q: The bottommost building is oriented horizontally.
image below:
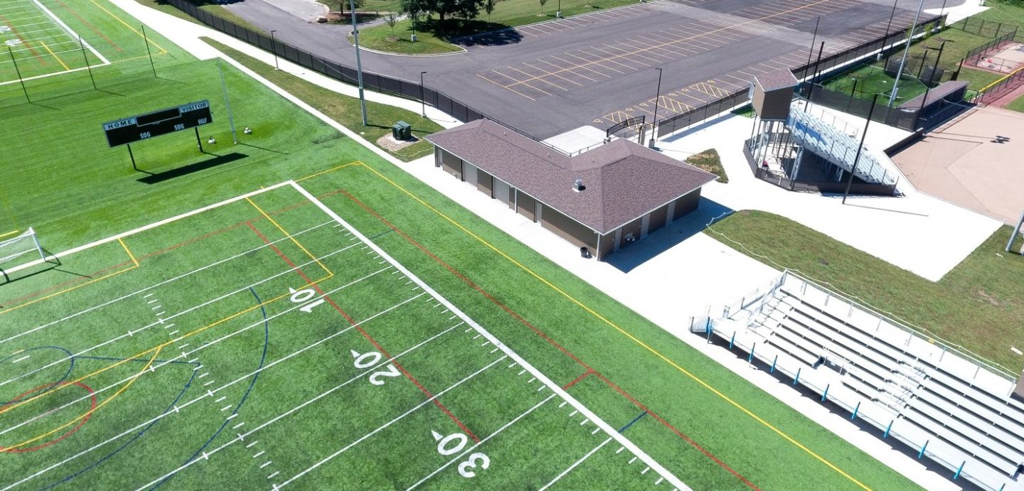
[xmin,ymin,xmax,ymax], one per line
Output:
[424,118,719,262]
